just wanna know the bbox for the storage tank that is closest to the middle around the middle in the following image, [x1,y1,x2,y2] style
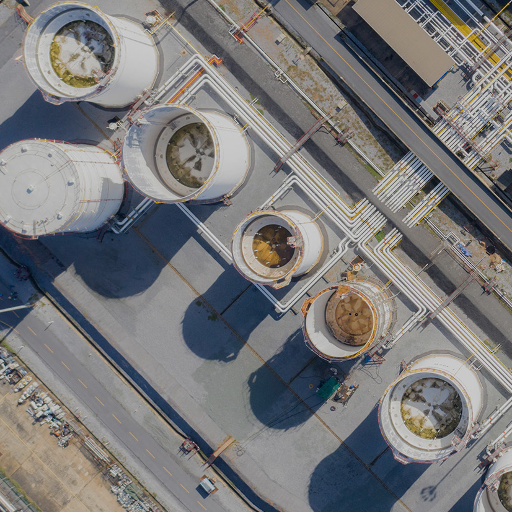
[228,205,327,290]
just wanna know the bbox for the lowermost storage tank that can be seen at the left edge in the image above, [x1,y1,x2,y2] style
[0,139,129,235]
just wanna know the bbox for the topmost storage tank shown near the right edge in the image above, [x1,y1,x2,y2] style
[373,349,488,470]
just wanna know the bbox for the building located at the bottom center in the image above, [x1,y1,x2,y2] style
[196,471,219,498]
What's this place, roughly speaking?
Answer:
industrial area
